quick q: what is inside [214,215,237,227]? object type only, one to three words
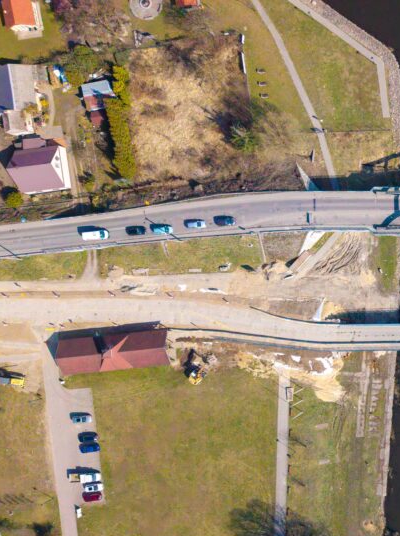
vehicle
